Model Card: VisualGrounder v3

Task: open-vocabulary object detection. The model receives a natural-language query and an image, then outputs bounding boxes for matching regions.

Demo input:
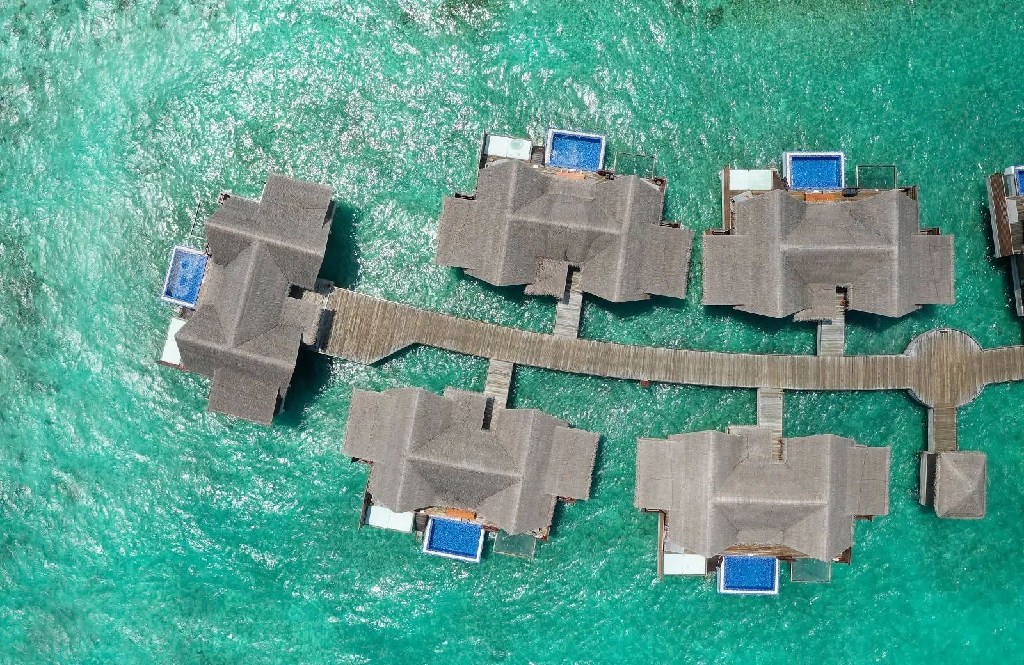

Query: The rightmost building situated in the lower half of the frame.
[908,451,987,519]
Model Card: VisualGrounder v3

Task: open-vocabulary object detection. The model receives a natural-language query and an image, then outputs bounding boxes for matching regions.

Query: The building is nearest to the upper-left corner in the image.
[150,168,344,431]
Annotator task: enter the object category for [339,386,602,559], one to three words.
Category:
house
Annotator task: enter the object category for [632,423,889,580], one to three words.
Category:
house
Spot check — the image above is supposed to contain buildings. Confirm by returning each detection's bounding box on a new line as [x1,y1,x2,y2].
[986,172,1024,311]
[632,423,889,580]
[431,130,692,302]
[339,386,602,559]
[698,163,955,323]
[908,451,987,519]
[150,168,344,431]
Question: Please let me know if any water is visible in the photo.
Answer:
Yes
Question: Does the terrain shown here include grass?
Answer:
No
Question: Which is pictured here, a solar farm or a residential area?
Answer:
residential area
